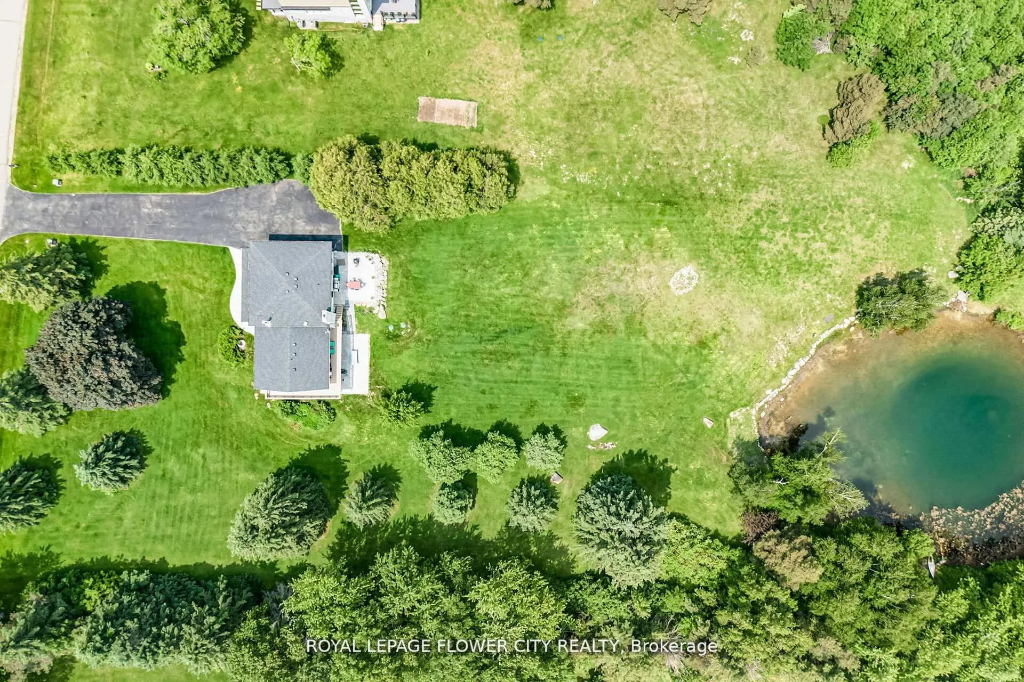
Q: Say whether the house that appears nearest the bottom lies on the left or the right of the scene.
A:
left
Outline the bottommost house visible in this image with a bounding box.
[242,240,336,393]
